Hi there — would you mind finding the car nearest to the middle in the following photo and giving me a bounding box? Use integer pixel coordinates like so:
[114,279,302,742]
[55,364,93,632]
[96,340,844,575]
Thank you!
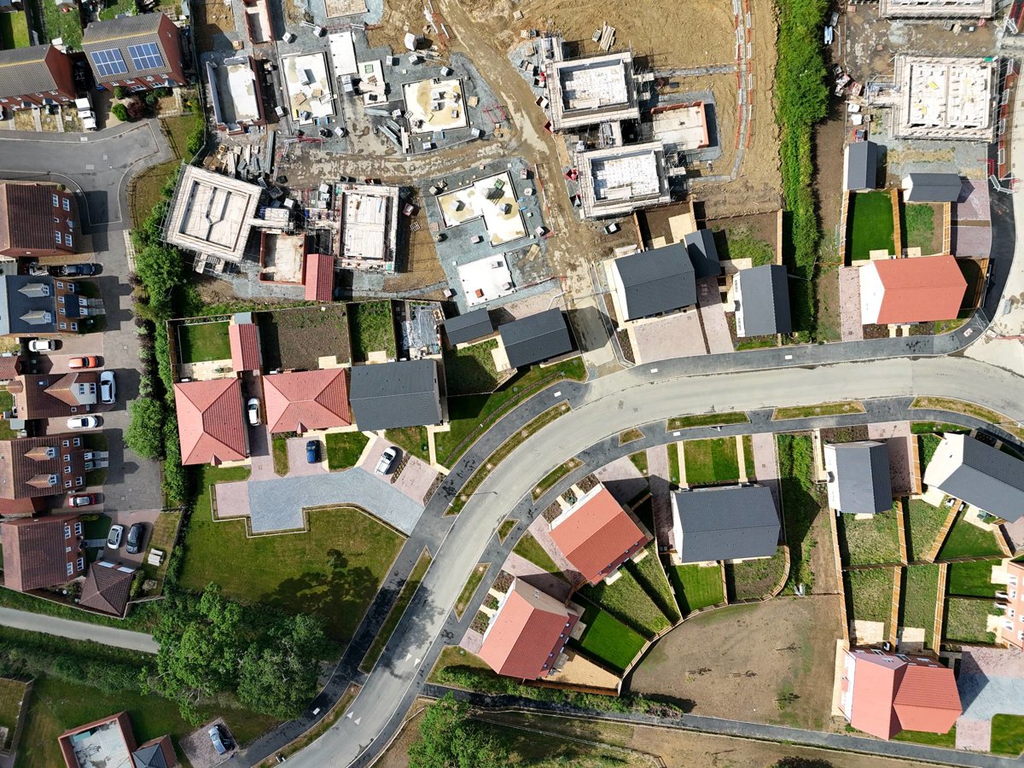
[374,446,398,476]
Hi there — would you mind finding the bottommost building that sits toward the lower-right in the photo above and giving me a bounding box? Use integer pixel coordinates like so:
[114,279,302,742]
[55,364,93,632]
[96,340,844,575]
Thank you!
[839,647,964,740]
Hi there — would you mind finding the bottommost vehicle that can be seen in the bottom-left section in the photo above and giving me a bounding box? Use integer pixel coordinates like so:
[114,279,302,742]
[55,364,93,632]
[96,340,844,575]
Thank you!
[211,724,232,756]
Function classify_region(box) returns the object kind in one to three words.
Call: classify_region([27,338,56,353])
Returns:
car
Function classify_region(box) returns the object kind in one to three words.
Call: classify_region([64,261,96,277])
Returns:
car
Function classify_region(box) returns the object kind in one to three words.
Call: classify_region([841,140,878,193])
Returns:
building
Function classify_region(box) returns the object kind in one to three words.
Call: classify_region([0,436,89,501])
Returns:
house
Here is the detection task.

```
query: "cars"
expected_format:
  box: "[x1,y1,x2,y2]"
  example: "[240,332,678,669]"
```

[374,446,398,476]
[64,261,96,277]
[69,493,96,508]
[106,523,124,549]
[245,397,261,426]
[306,439,320,464]
[98,370,116,404]
[125,522,145,553]
[90,79,106,102]
[66,416,99,429]
[22,360,45,374]
[27,338,56,353]
[211,724,232,756]
[68,355,98,370]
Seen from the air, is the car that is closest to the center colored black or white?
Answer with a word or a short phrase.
white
